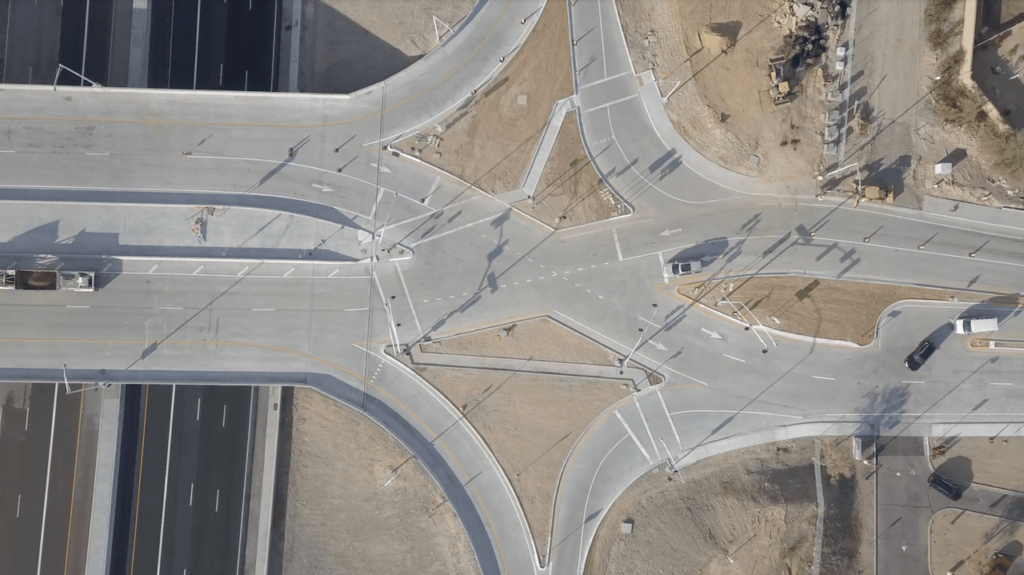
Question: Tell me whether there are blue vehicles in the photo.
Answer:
No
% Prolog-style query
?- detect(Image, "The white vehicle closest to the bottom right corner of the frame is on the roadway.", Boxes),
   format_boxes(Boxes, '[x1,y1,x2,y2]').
[955,317,1001,336]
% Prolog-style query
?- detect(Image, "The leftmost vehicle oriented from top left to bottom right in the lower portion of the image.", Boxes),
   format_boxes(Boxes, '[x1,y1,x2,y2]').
[925,470,966,501]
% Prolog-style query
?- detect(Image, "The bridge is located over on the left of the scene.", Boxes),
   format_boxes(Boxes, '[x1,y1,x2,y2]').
[0,79,387,412]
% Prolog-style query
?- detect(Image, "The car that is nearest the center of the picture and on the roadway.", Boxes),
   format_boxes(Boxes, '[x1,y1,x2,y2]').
[662,260,701,278]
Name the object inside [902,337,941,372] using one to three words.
car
